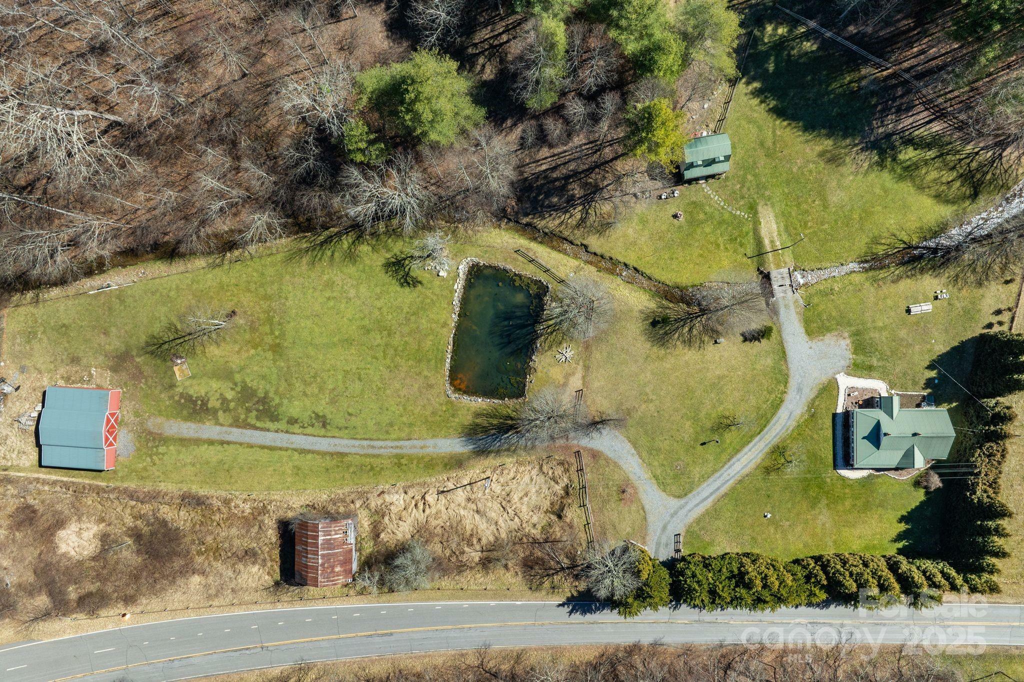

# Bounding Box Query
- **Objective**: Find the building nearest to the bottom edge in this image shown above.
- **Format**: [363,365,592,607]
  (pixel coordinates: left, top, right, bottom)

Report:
[295,517,358,588]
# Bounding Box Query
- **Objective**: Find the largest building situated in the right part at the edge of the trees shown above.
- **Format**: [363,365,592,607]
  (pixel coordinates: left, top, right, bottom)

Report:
[846,396,956,469]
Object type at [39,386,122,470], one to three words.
barn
